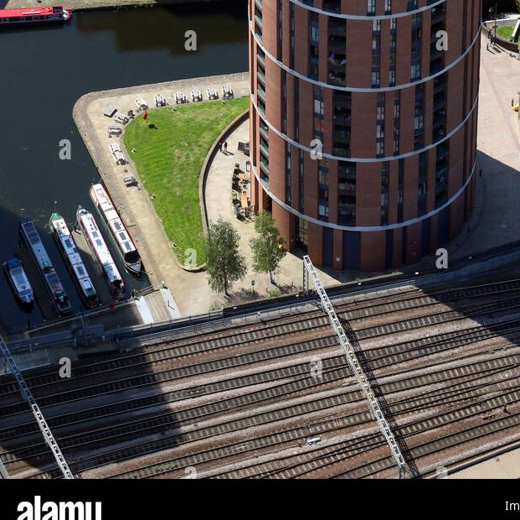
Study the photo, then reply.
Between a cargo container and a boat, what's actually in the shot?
boat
